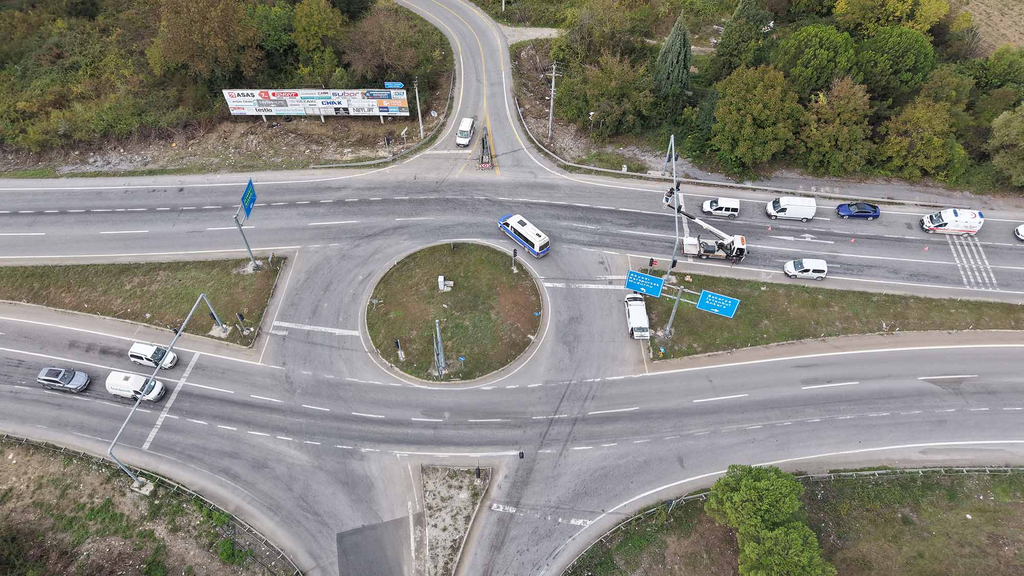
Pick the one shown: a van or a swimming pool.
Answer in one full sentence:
There is a van in the scene.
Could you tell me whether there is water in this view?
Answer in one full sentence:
No, the picture contains no water.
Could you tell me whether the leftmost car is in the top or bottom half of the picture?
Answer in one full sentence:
You can find the leftmost car in the bottom half.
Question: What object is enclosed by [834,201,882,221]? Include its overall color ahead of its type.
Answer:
blue car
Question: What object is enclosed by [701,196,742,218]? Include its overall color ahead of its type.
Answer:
white vehicle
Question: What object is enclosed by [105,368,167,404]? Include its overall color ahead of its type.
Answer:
white van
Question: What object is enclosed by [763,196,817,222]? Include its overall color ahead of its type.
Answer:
white vehicle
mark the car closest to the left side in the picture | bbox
[37,363,93,392]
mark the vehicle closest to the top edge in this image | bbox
[455,113,475,144]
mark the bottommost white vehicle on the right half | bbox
[625,295,649,340]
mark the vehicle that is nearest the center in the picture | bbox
[498,212,550,258]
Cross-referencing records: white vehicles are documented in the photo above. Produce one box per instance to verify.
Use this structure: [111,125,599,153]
[127,340,178,371]
[919,208,984,238]
[105,368,167,404]
[455,113,475,144]
[701,196,742,218]
[763,196,817,222]
[783,257,830,281]
[498,212,550,258]
[625,295,649,340]
[1010,225,1024,243]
